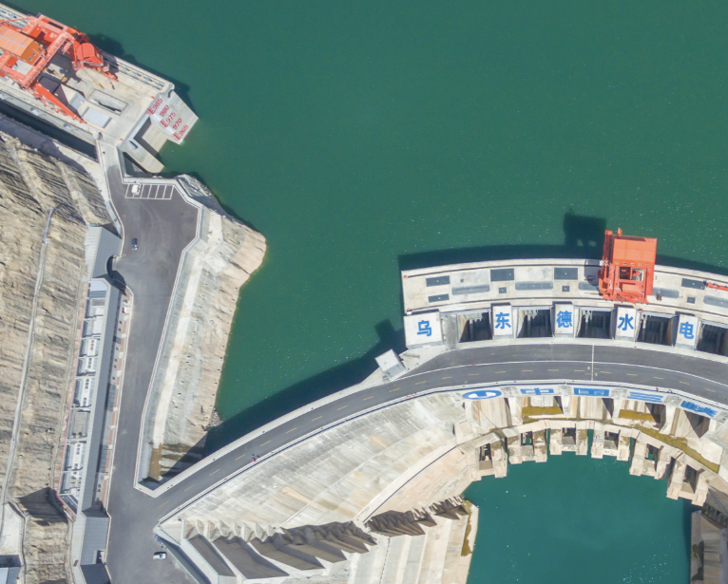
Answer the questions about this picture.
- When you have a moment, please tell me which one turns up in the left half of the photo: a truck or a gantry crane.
gantry crane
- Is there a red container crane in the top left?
Yes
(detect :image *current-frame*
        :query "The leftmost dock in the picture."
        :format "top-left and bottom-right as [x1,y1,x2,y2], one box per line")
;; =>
[122,140,160,178]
